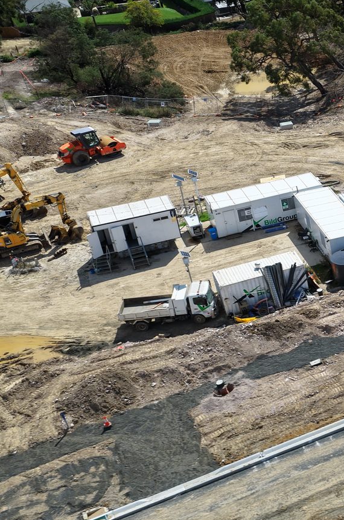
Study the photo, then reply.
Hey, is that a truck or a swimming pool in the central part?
truck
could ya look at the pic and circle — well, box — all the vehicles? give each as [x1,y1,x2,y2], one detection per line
[117,279,221,330]
[55,126,127,165]
[0,163,33,201]
[0,193,81,259]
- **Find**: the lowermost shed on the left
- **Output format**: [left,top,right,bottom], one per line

[87,196,182,258]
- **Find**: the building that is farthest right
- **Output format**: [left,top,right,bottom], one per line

[293,186,344,259]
